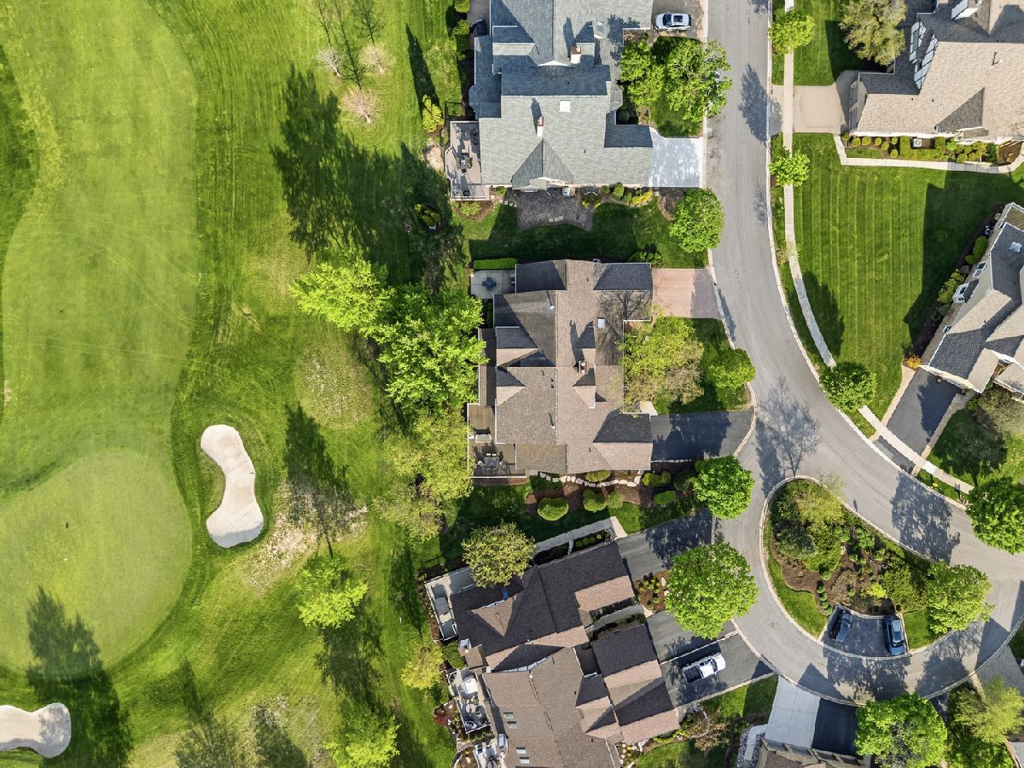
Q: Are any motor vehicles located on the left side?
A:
No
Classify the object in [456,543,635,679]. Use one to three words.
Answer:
house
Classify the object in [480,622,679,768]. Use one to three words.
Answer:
house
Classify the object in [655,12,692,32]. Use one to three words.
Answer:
car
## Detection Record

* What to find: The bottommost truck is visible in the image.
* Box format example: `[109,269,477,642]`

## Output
[681,654,728,683]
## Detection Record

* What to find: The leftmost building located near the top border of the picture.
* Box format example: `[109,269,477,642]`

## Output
[468,0,653,193]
